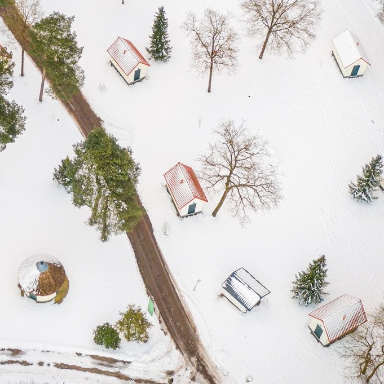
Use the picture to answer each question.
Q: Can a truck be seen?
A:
No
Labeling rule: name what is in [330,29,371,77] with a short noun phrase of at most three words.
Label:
building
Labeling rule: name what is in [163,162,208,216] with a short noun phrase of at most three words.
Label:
building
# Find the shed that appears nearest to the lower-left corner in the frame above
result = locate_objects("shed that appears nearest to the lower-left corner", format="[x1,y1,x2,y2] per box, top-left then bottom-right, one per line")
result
[17,253,71,305]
